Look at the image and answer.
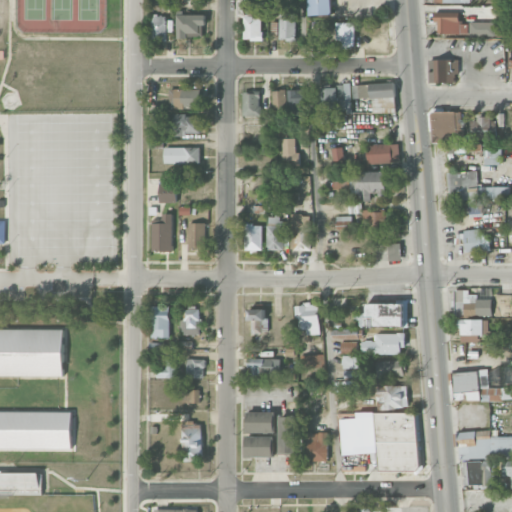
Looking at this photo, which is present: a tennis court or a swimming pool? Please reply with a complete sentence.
The image shows a tennis court.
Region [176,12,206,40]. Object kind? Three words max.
house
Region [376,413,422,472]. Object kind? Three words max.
building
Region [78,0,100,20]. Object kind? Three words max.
tennis court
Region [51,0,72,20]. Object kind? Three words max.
tennis court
